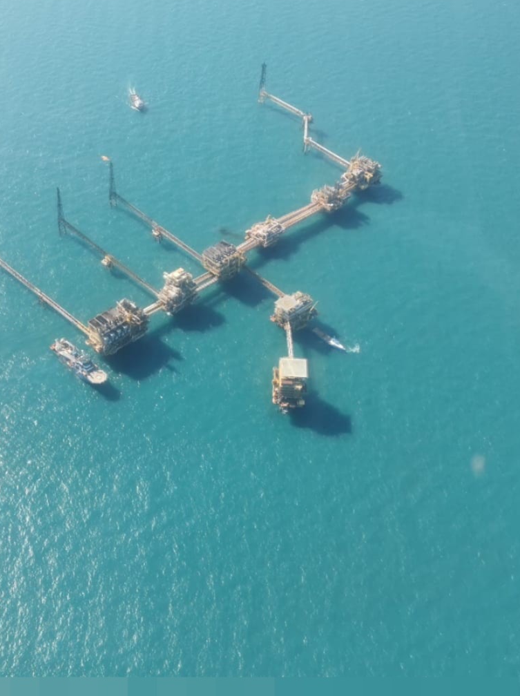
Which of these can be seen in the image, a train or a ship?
ship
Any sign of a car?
No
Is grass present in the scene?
No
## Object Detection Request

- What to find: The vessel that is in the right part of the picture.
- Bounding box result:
[309,324,350,353]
